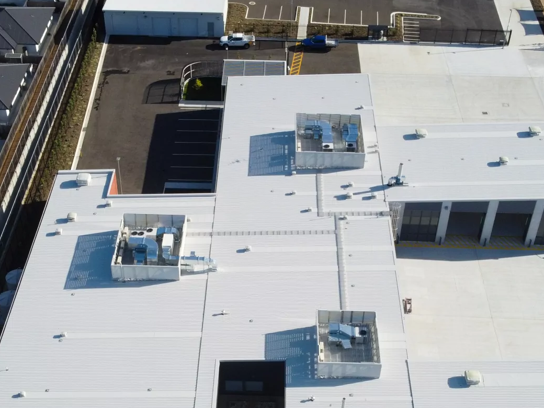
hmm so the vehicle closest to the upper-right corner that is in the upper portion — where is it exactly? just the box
[302,36,338,51]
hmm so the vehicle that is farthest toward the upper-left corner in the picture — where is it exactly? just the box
[222,35,256,51]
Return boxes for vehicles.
[302,36,338,51]
[222,35,256,51]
